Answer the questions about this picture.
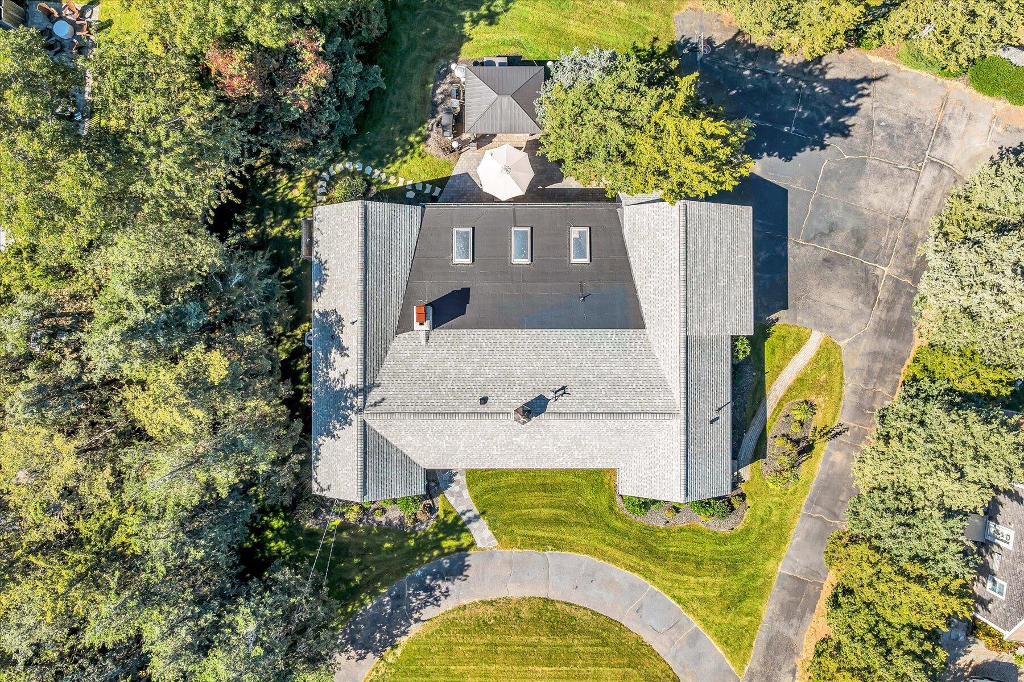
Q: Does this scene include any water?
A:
No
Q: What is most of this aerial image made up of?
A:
trees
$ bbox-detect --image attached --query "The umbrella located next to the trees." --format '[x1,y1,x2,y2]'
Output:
[476,144,534,201]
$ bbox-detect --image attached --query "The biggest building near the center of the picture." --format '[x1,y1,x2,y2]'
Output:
[310,191,754,503]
